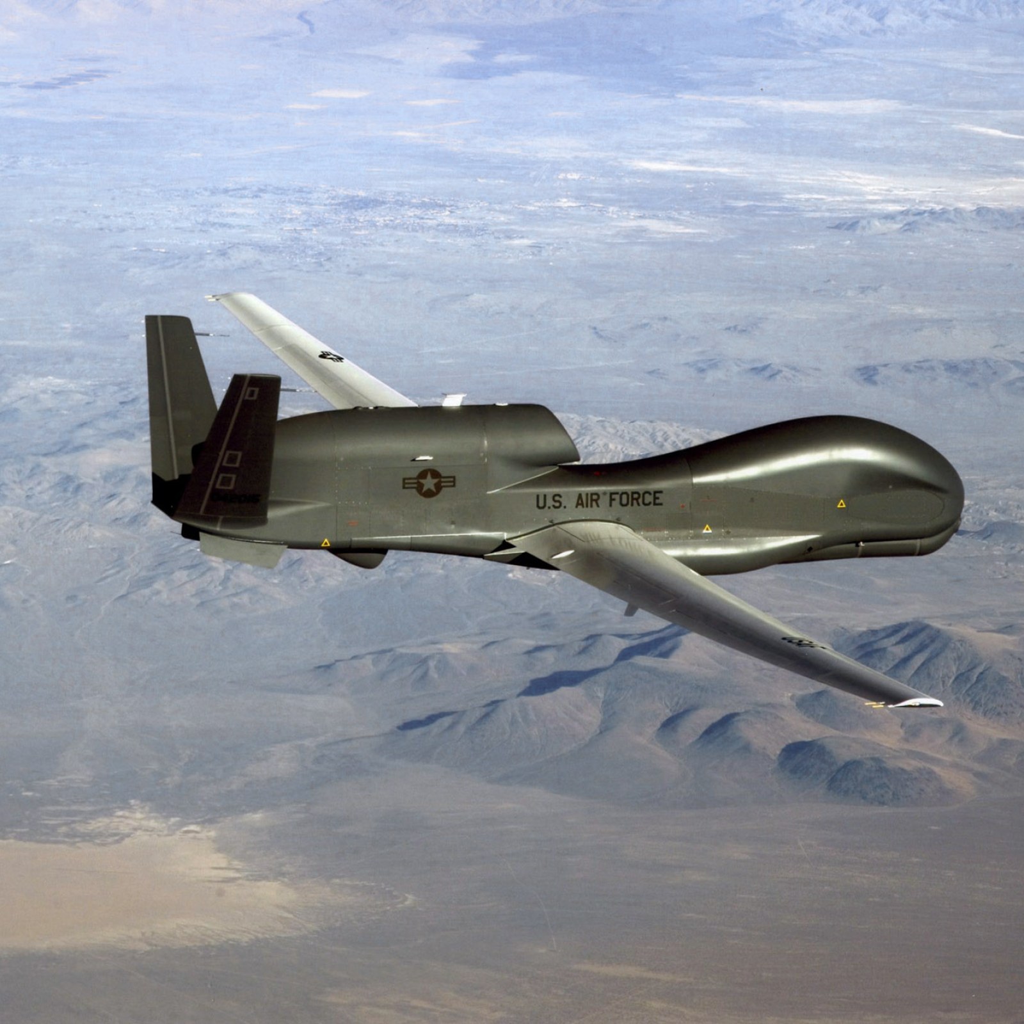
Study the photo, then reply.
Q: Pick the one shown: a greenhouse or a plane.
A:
plane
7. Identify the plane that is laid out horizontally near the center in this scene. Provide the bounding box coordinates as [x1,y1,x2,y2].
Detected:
[141,292,964,709]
